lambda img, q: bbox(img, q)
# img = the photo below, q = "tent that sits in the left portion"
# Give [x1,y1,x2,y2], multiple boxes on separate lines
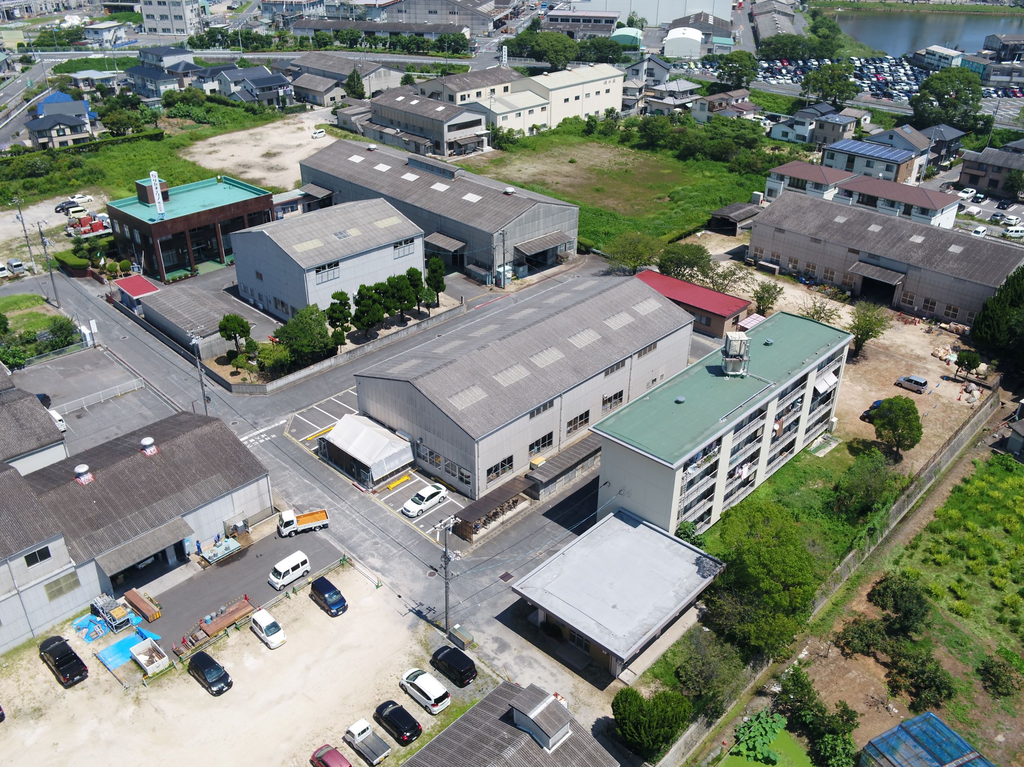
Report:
[321,415,414,486]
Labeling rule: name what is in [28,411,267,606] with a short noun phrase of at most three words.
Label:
shed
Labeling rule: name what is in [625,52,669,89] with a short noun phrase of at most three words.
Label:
house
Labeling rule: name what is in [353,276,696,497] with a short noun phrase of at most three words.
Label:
building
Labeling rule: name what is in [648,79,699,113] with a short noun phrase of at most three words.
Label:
house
